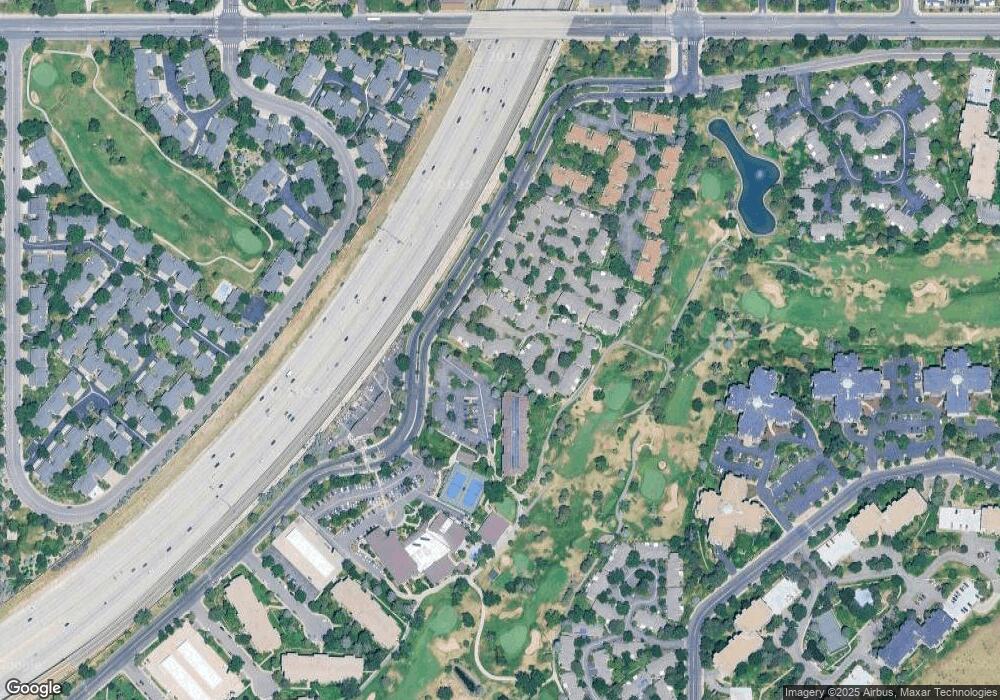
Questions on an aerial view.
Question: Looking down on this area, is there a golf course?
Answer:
Yes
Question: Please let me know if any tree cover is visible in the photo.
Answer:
Yes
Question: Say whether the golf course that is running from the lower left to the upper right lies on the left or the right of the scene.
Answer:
right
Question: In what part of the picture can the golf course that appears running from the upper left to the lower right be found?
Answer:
top left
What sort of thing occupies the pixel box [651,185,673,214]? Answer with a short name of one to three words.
house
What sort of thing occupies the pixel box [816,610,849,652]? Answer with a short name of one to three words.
sports court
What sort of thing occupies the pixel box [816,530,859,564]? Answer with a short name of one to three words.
building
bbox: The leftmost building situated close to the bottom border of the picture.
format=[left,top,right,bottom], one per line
[143,622,245,700]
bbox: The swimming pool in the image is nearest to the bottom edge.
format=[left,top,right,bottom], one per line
[855,588,873,606]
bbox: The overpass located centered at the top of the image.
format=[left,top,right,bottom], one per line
[465,12,575,41]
